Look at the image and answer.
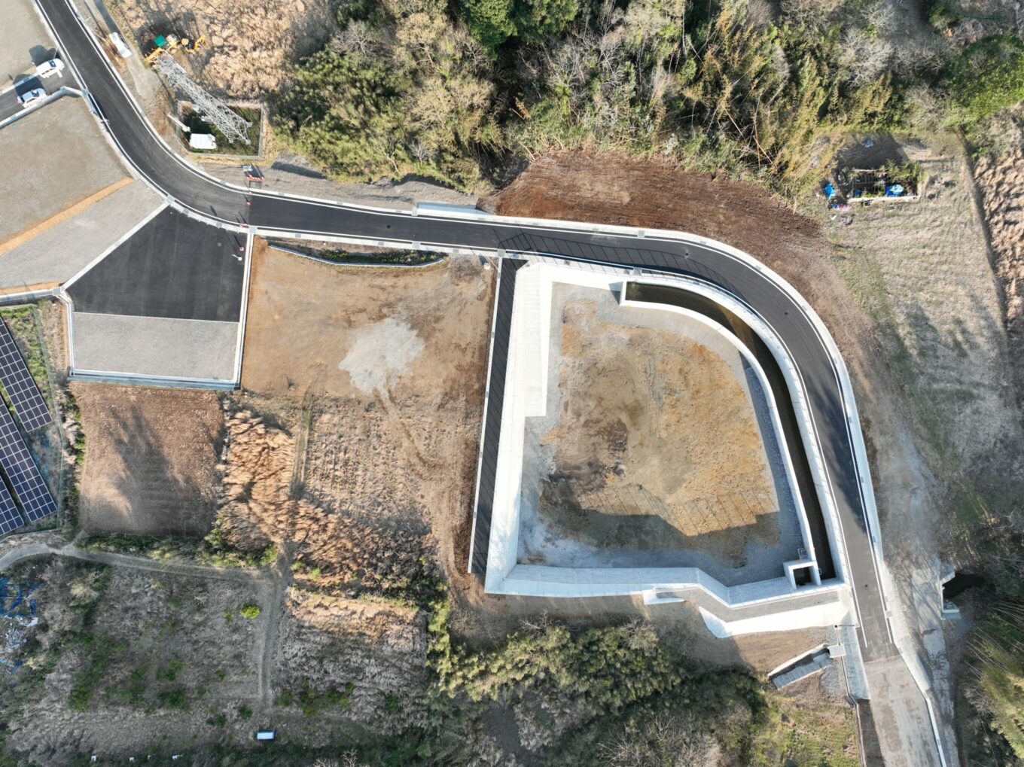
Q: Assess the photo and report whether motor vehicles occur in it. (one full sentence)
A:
Yes, a motor vehicle is visible in the scene.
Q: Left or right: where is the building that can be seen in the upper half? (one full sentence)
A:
You can find the building that can be seen in the upper half on the left side of the picture.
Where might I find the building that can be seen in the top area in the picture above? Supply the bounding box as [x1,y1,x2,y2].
[185,132,218,152]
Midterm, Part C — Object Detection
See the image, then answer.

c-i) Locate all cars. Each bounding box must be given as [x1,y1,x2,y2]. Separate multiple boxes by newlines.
[35,62,70,81]
[111,34,134,63]
[20,88,50,107]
